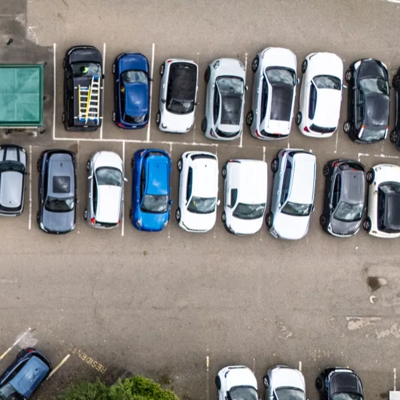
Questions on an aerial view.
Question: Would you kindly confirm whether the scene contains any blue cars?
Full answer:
Yes, there's a blue car here.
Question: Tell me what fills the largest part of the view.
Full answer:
The scene is dominated by paved ground.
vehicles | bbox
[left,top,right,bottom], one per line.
[344,59,398,144]
[298,53,350,137]
[318,366,372,400]
[252,48,305,138]
[112,52,158,129]
[38,149,83,234]
[364,164,400,239]
[0,145,32,217]
[0,343,54,400]
[202,60,252,138]
[262,364,313,400]
[177,150,224,232]
[223,158,274,235]
[217,364,269,400]
[85,150,130,229]
[63,45,110,131]
[269,148,320,240]
[319,158,371,238]
[130,149,177,231]
[159,60,203,130]
[388,64,400,150]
